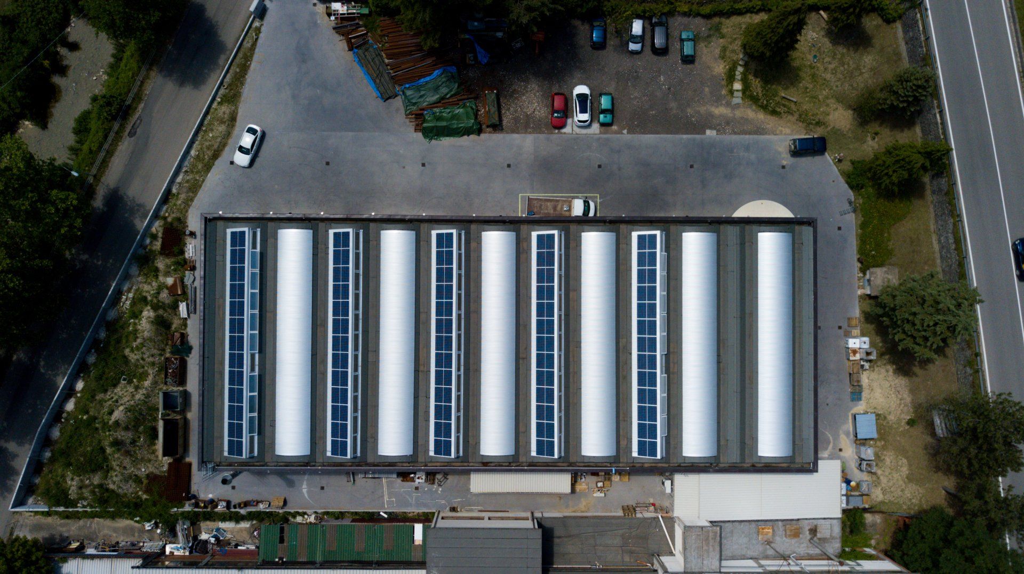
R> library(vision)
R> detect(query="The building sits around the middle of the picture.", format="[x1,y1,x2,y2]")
[198,214,818,476]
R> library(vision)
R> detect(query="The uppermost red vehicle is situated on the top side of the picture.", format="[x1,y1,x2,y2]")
[549,91,568,128]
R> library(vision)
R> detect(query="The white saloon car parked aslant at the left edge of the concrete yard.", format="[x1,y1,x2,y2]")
[232,122,265,166]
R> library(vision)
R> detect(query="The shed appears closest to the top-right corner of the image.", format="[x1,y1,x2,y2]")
[861,266,898,296]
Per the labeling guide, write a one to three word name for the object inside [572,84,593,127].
car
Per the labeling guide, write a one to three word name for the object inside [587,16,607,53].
car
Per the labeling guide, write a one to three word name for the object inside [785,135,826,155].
vehicle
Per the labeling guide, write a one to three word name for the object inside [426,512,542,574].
building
